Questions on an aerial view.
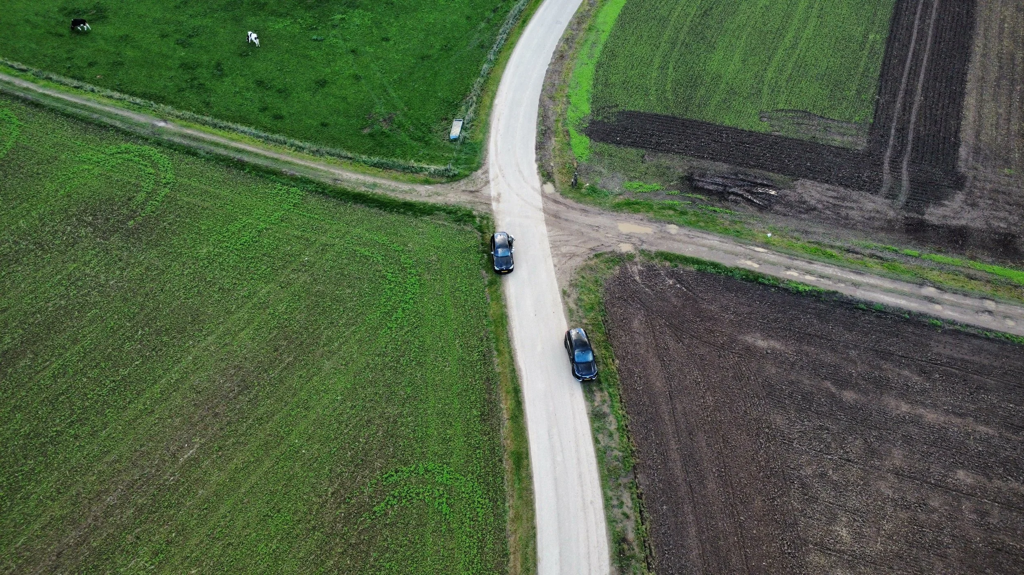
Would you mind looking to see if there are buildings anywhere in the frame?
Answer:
No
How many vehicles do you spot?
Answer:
2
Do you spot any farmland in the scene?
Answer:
Yes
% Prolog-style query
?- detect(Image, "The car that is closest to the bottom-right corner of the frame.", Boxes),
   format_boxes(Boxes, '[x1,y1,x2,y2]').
[565,327,598,380]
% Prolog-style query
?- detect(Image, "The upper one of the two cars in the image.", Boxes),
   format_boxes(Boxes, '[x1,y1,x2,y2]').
[490,234,514,273]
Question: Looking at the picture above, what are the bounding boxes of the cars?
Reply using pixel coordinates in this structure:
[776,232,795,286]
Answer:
[490,234,514,273]
[565,327,598,380]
